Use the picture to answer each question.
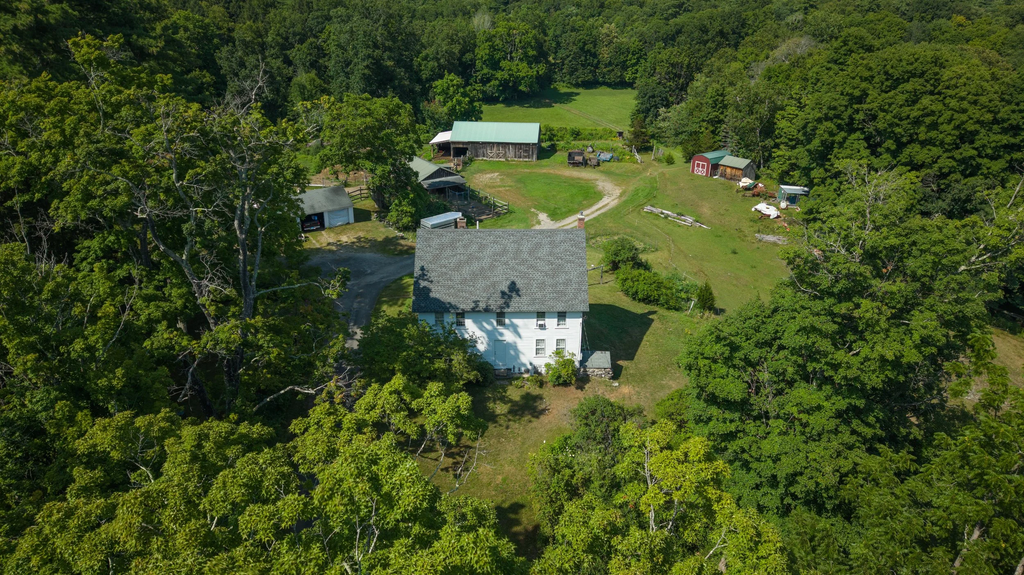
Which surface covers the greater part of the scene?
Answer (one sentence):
For the most part, this view shows trees.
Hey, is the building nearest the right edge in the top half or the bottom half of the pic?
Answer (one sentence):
The top half of the photo is where the building nearest the right edge is.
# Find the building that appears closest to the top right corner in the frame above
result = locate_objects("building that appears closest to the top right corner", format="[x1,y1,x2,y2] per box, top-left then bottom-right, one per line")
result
[784,181,813,208]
